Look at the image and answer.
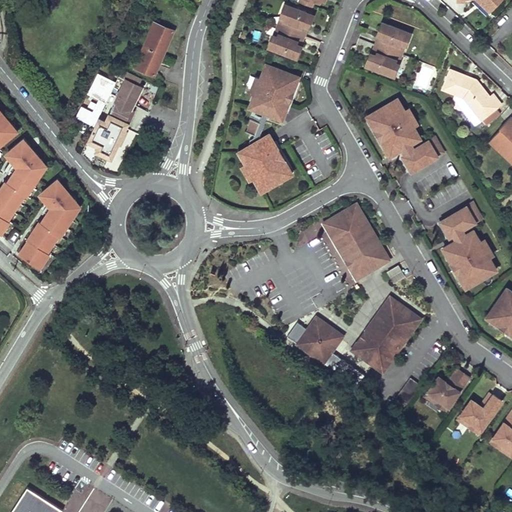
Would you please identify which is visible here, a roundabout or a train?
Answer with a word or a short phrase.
roundabout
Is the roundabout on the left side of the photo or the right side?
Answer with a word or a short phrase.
left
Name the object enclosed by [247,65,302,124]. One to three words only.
house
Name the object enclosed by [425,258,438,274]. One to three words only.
vehicle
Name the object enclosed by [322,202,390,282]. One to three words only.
building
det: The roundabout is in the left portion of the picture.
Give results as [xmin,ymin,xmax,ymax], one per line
[110,176,204,270]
